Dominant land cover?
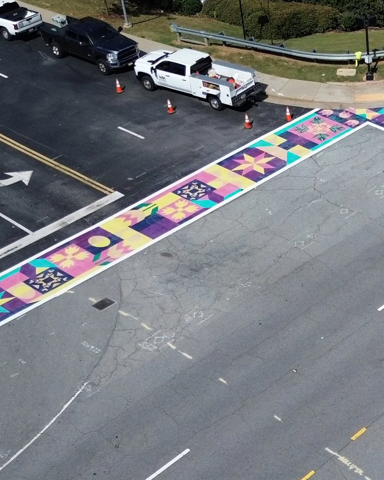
paved ground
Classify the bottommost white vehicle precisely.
truck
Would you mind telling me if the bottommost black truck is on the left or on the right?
left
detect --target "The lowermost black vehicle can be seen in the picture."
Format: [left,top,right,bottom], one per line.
[40,21,141,72]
